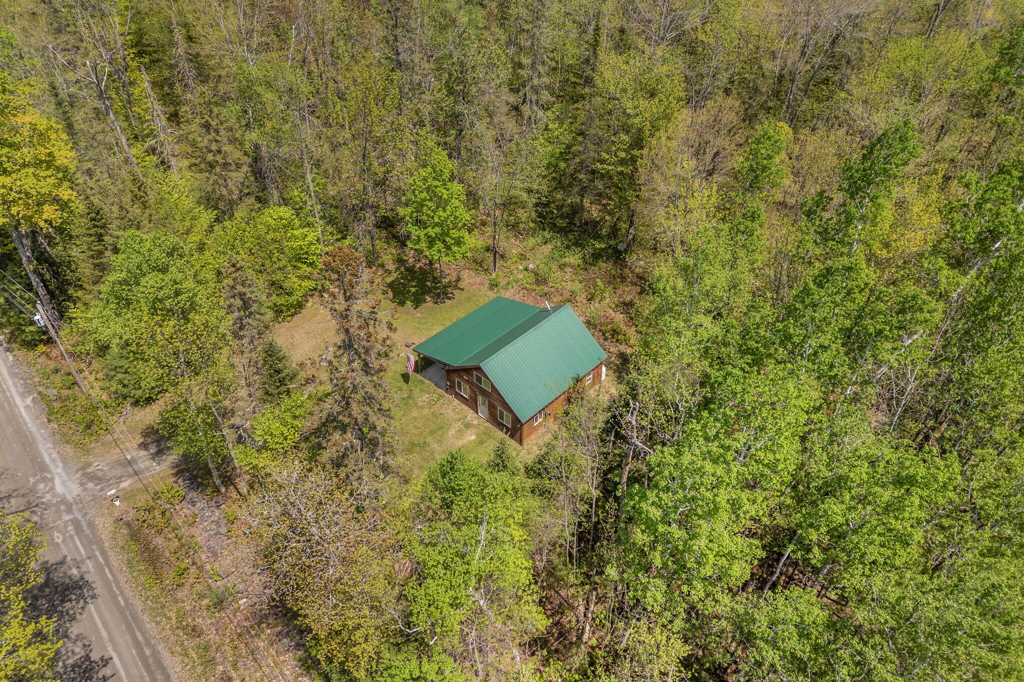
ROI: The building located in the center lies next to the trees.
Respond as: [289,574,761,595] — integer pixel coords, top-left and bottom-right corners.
[412,297,608,447]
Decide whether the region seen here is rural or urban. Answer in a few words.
rural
